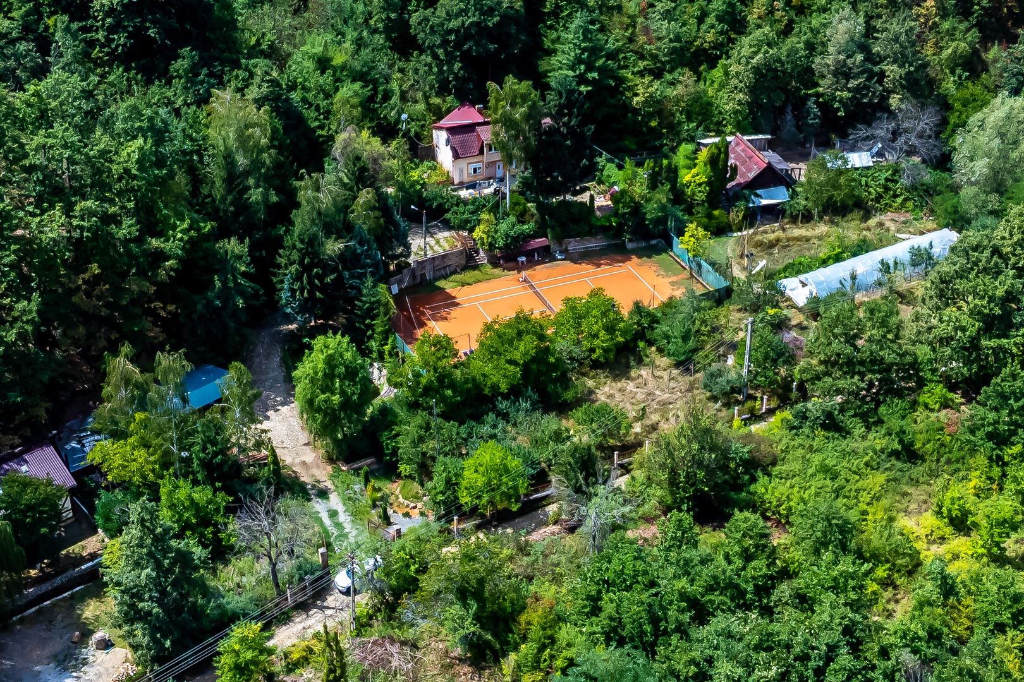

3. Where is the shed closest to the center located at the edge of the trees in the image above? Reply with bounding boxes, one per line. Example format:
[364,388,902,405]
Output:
[488,231,550,267]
